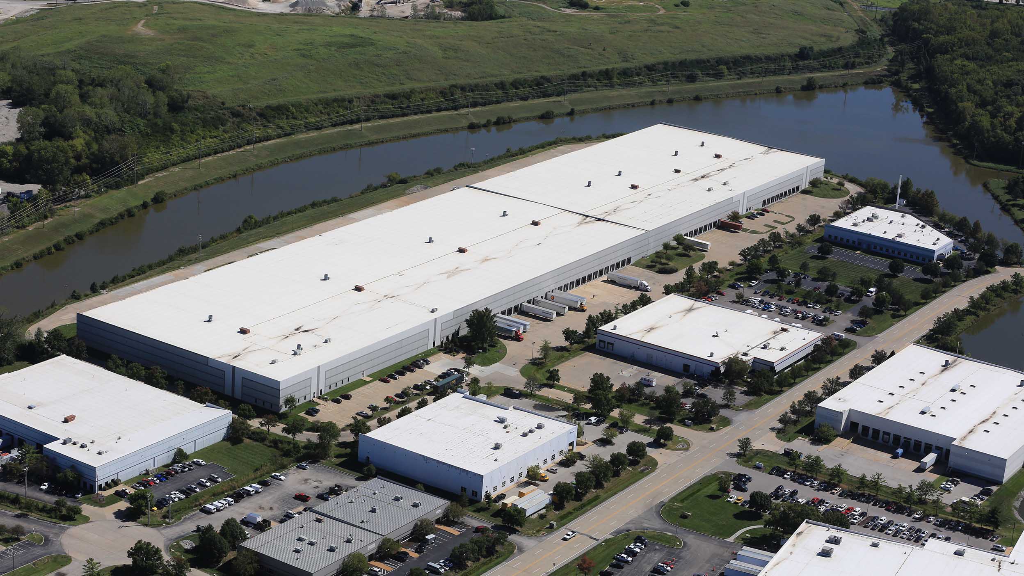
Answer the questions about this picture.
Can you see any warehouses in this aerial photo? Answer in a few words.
Yes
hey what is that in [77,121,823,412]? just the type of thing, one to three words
warehouse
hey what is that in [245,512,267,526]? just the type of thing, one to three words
vehicle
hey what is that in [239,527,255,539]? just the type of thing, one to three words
vehicle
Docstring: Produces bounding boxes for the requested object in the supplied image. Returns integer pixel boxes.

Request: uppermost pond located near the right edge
[960,298,1024,370]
